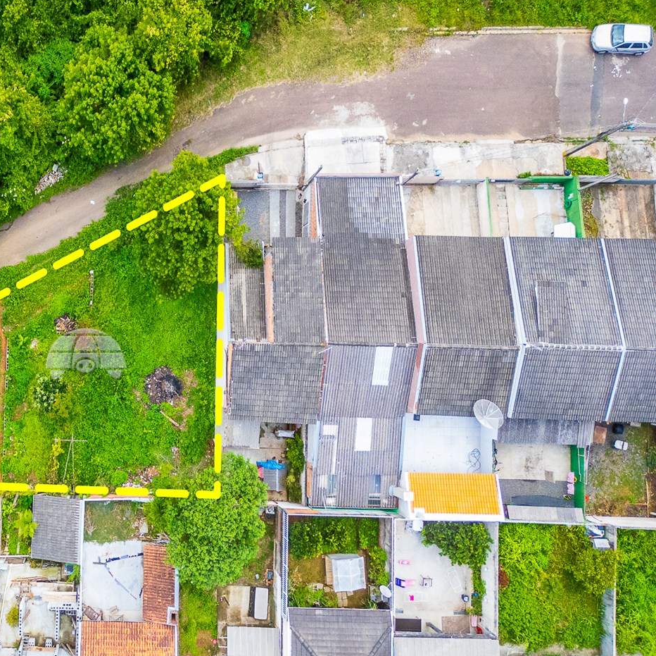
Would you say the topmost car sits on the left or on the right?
right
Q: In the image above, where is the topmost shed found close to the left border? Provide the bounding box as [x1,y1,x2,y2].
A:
[31,489,83,567]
